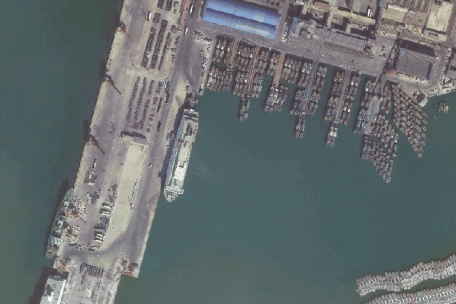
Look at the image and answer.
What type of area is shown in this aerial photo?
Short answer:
port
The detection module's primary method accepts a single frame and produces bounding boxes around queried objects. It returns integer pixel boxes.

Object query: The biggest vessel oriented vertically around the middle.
[164,107,199,201]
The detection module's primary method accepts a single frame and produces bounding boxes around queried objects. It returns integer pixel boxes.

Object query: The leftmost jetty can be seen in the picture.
[54,0,216,304]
